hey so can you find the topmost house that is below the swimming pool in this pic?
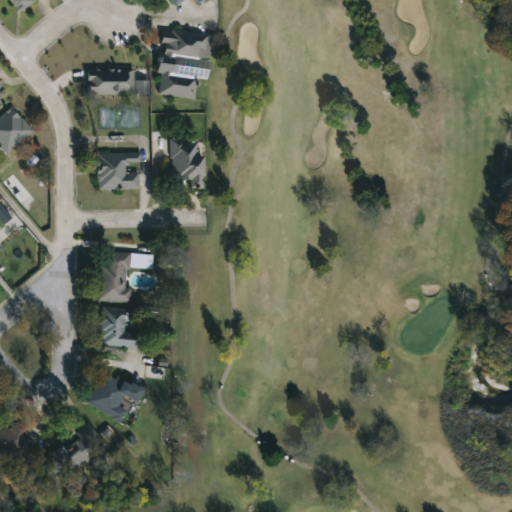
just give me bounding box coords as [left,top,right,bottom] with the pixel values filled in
[100,307,137,348]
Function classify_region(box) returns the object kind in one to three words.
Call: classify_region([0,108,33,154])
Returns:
house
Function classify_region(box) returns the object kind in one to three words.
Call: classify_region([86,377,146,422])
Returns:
house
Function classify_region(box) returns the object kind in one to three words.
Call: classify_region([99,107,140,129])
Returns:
sports court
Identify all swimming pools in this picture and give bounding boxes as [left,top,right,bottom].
[128,270,158,290]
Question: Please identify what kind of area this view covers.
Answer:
golf course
